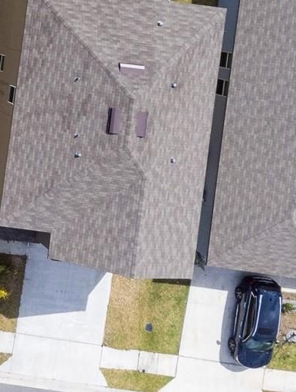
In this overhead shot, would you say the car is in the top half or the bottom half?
bottom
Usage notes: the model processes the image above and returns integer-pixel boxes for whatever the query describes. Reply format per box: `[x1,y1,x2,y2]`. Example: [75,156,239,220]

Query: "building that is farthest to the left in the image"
[0,0,228,281]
